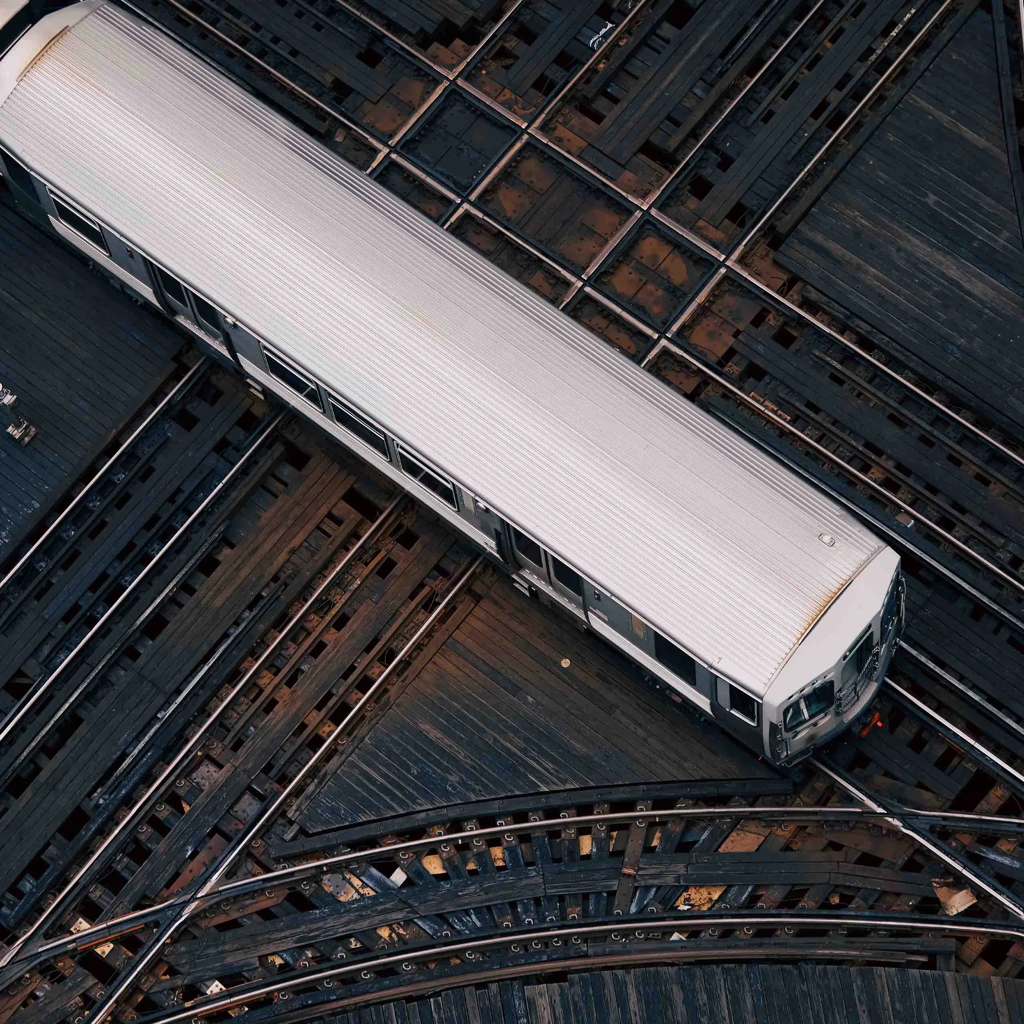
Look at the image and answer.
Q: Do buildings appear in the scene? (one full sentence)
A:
No, no building is visible in the view.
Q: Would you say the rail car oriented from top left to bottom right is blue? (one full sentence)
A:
No, the color of the rail car oriented from top left to bottom right is white.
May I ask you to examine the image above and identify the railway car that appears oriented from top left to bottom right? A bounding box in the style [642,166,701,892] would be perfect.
[0,0,915,772]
